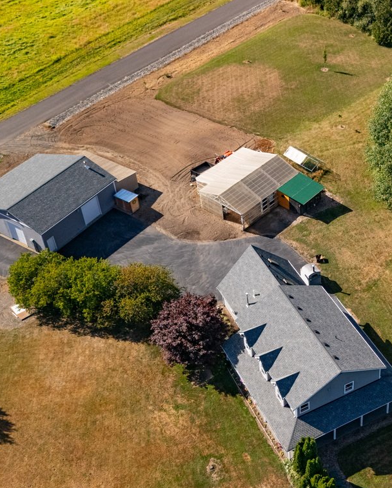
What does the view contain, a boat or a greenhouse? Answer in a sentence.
I can see a greenhouse in this picture.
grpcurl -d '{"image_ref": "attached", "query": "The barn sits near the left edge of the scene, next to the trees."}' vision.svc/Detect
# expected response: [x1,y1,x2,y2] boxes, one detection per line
[0,154,119,258]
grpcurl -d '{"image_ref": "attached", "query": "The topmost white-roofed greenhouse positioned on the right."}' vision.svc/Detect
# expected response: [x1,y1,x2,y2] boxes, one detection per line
[192,149,300,231]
